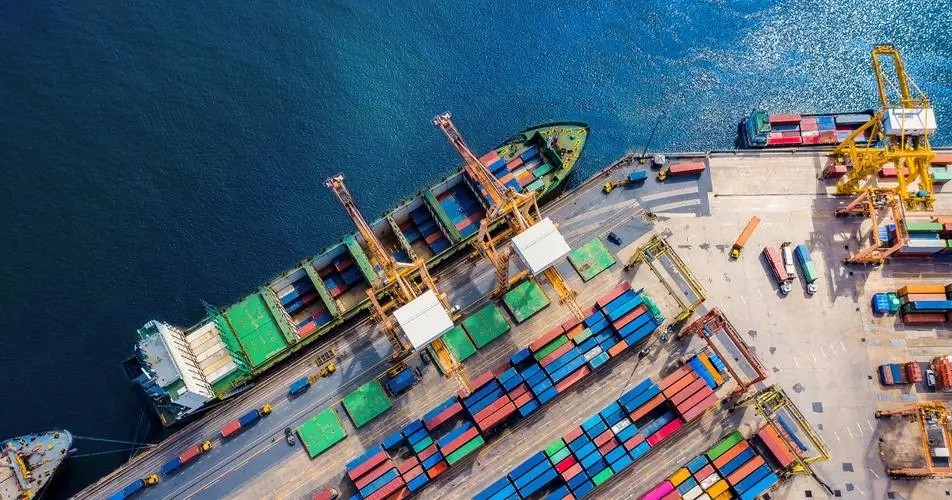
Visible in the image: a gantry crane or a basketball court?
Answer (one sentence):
This aerial view contains a gantry crane.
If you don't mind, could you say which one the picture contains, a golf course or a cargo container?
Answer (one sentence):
There is a cargo container in the scene.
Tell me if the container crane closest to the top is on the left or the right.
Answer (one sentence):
The container crane closest to the top sits on the right side.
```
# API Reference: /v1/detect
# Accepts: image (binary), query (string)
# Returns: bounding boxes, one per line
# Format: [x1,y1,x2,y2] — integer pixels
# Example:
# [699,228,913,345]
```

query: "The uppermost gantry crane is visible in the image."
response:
[821,46,946,207]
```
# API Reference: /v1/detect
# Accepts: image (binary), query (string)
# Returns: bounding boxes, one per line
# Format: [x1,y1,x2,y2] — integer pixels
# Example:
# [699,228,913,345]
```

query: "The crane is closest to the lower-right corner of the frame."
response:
[875,408,952,473]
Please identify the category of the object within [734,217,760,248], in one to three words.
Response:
shipping container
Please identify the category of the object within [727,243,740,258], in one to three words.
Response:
vehicle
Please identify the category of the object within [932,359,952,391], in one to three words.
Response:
work vehicle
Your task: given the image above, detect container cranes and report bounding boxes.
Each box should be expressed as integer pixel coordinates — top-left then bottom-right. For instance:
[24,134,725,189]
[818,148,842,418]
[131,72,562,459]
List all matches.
[324,172,474,396]
[620,234,708,326]
[832,191,909,262]
[726,387,832,477]
[668,307,760,393]
[875,408,952,473]
[821,46,946,207]
[435,110,589,319]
